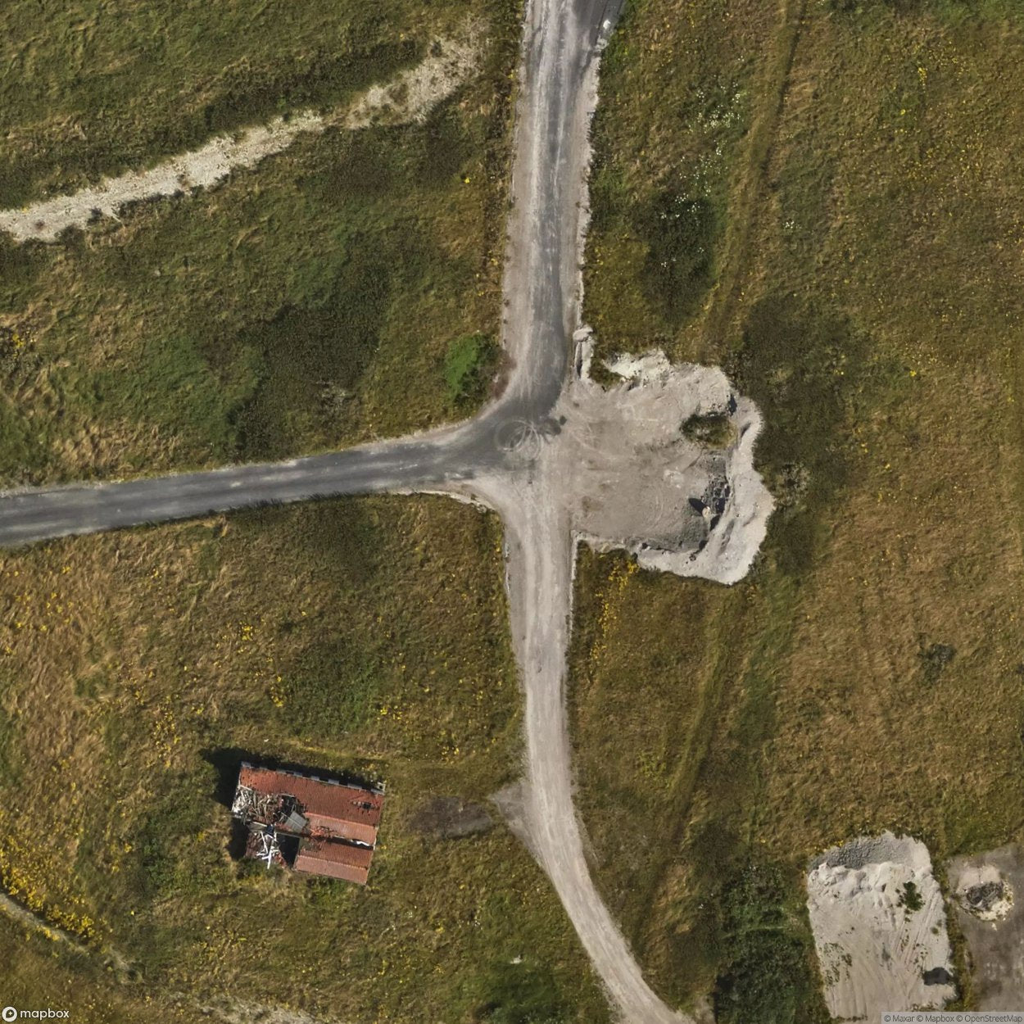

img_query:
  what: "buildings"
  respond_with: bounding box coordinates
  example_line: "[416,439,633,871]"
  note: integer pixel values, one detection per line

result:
[227,763,384,887]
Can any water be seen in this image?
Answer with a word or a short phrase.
No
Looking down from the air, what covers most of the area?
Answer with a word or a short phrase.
grass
